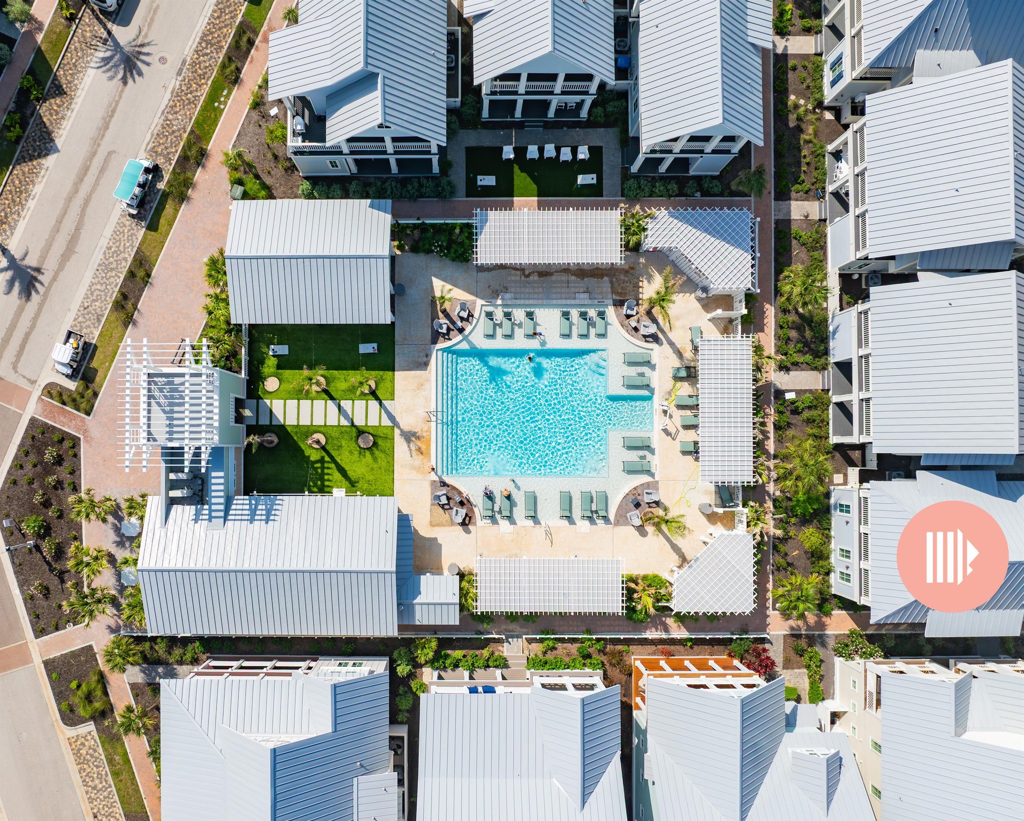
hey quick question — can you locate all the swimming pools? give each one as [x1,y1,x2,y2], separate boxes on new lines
[437,305,653,520]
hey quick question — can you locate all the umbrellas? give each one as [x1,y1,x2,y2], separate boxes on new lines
[120,565,139,588]
[121,516,144,539]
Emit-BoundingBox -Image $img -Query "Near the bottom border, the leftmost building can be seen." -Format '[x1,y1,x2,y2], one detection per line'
[159,657,411,821]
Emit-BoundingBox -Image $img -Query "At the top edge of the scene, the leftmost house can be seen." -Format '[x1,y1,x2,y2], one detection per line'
[269,0,447,178]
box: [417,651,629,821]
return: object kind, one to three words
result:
house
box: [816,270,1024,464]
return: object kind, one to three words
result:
house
